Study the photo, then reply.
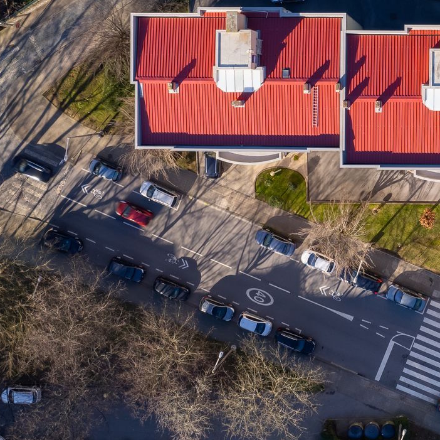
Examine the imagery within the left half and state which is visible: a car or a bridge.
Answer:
car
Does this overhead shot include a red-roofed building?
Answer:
Yes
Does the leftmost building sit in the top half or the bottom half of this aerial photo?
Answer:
top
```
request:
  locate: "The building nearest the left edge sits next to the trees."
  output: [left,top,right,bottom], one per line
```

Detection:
[131,7,362,167]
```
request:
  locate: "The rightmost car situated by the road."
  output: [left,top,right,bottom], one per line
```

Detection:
[382,281,428,313]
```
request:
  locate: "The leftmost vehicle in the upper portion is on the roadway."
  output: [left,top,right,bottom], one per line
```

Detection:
[14,153,56,184]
